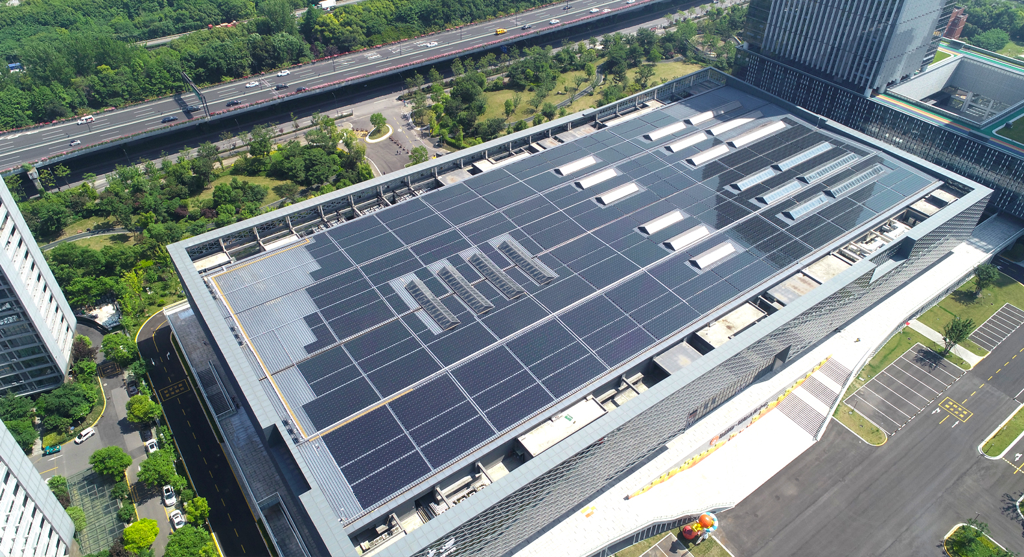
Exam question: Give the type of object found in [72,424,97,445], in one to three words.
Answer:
car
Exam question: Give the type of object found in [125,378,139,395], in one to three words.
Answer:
car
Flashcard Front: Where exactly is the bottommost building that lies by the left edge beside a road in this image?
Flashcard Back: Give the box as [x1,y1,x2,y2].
[0,425,73,557]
